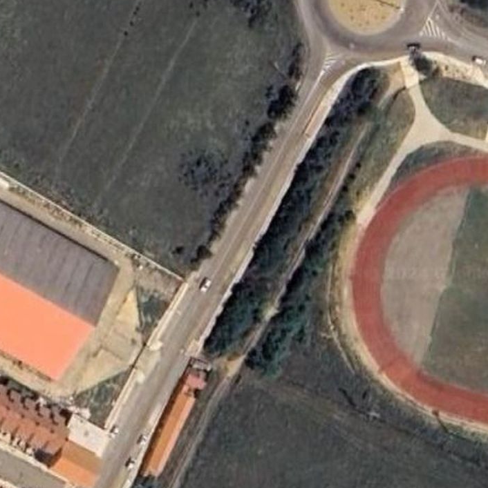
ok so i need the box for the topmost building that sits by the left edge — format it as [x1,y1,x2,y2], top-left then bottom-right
[0,203,118,382]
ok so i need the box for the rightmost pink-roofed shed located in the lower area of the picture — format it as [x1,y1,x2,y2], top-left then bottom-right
[181,372,205,391]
